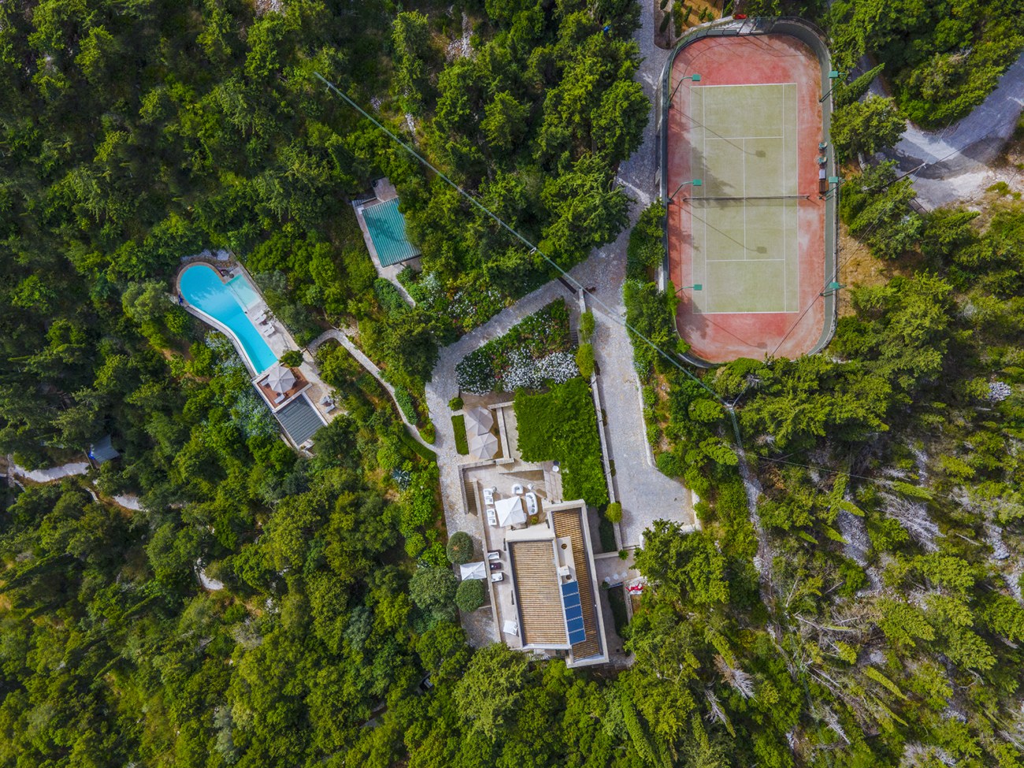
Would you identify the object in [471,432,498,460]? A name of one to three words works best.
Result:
umbrella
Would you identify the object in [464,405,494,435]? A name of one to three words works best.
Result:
umbrella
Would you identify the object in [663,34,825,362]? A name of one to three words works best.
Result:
tennis court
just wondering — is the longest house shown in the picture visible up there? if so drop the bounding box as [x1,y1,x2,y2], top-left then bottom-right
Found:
[504,498,609,668]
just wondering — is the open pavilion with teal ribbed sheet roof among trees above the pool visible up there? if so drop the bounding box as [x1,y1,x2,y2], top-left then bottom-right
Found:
[362,197,425,270]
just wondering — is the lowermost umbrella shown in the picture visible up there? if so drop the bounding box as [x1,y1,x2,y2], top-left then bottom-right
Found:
[462,560,485,579]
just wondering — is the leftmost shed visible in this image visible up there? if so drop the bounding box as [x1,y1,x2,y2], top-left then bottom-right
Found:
[94,434,131,463]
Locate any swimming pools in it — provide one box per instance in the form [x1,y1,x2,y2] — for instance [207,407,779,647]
[176,261,282,379]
